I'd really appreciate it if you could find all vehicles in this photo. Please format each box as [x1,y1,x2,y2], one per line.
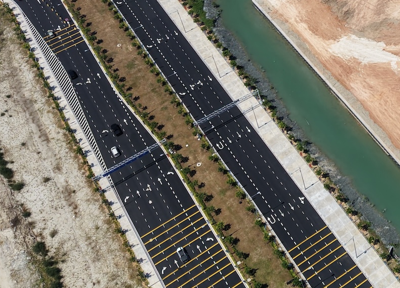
[110,146,120,156]
[176,246,189,263]
[69,68,77,79]
[46,28,55,37]
[112,124,122,135]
